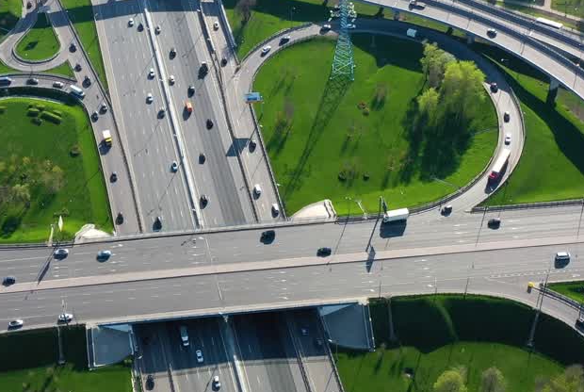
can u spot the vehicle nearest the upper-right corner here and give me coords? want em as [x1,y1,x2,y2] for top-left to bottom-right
[535,14,564,32]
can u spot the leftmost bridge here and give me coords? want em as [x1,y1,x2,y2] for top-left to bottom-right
[85,214,377,327]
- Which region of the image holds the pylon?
top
